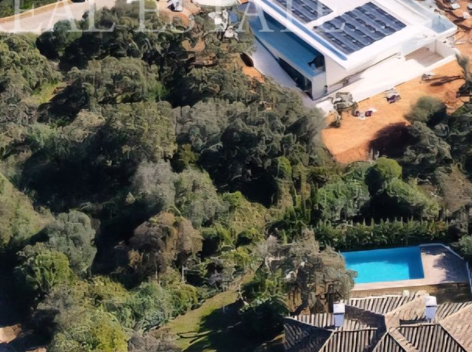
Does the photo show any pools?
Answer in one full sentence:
Yes, the image includes a pool.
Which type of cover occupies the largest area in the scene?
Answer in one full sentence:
The largest share of the image is taken up by trees.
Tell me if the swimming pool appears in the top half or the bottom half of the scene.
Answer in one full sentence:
The bottom half of the photo is where the swimming pool is.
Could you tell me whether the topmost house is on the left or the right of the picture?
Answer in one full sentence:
The topmost house appears in the right half of the scene.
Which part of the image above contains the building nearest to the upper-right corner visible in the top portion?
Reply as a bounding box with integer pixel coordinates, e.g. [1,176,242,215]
[246,0,459,112]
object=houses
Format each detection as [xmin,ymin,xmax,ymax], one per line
[269,290,472,352]
[246,0,459,112]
